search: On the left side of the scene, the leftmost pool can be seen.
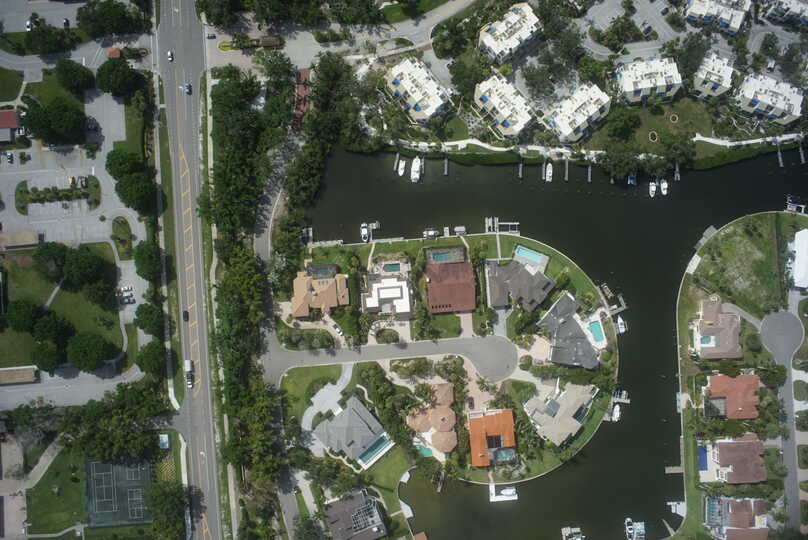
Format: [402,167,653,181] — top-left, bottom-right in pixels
[308,261,338,276]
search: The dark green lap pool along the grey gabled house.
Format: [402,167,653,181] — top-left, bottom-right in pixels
[357,433,395,470]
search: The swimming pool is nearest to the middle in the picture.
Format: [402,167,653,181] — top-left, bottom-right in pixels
[370,259,410,282]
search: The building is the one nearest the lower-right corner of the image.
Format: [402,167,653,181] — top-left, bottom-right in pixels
[725,497,769,540]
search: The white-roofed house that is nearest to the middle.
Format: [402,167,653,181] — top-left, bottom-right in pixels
[366,279,410,313]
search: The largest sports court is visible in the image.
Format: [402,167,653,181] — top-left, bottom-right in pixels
[84,458,152,527]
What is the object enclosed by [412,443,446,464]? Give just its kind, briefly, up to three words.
swimming pool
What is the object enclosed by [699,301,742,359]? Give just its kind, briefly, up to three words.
house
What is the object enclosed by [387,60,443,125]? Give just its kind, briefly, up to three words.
building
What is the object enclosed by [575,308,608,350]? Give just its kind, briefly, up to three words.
swimming pool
